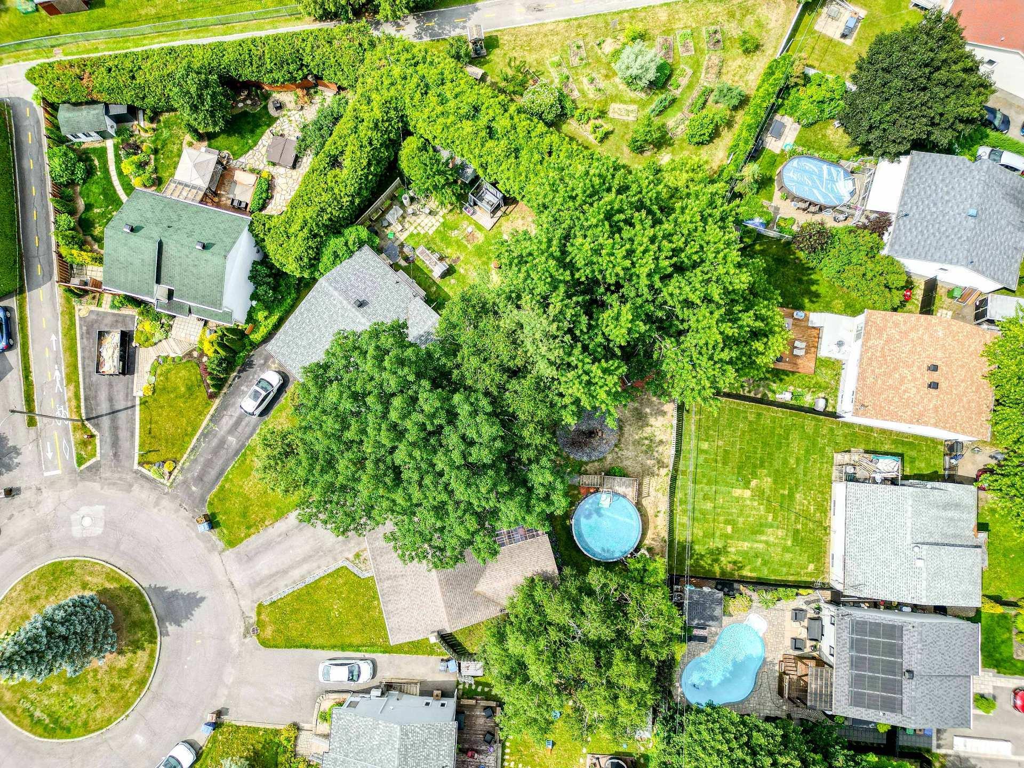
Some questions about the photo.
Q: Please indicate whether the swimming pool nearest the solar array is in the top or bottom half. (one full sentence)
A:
The bottom half of the photo is where the swimming pool nearest the solar array is.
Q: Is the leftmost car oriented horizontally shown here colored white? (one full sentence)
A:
Yes, white is the color of the leftmost car oriented horizontally.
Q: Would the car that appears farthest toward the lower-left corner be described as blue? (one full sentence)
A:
No, from above the car that appears farthest toward the lower-left corner looks white.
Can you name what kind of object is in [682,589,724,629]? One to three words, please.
shed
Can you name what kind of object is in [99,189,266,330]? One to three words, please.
house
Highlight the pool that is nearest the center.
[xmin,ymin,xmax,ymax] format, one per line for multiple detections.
[570,489,642,562]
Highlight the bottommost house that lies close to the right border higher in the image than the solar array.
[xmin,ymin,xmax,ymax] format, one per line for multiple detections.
[829,479,988,607]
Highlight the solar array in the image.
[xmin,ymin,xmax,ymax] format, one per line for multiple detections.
[849,613,906,716]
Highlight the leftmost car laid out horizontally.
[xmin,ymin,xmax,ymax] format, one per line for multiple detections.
[315,658,375,687]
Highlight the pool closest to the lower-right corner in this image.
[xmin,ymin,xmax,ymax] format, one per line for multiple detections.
[680,613,768,706]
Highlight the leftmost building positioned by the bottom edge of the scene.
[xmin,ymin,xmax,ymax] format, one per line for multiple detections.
[322,686,459,768]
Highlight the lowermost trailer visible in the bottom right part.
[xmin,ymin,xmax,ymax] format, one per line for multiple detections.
[947,731,1019,759]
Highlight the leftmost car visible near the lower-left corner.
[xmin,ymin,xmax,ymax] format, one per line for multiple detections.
[157,736,199,768]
